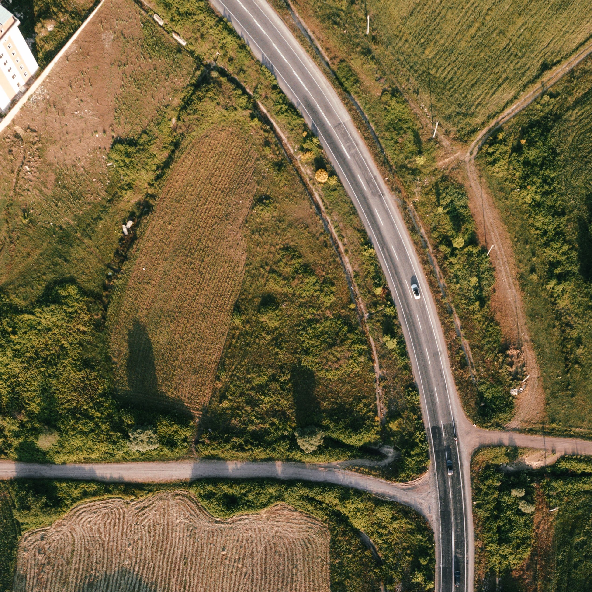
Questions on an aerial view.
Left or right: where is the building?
left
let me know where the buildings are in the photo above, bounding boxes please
[0,17,39,113]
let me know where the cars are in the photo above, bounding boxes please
[446,459,453,474]
[454,571,461,587]
[411,282,421,299]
